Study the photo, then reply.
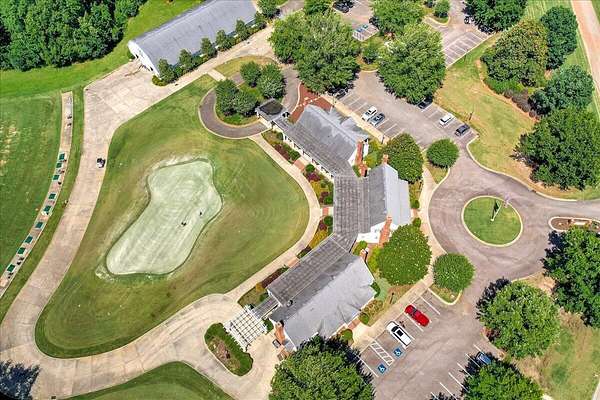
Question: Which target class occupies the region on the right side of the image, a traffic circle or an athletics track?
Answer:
traffic circle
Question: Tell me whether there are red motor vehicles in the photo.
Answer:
Yes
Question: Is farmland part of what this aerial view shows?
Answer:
No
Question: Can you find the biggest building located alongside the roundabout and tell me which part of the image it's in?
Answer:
center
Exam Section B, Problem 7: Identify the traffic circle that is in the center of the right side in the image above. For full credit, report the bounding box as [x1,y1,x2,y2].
[444,182,542,262]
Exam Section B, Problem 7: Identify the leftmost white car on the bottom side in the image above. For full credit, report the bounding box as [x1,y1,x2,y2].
[387,322,412,347]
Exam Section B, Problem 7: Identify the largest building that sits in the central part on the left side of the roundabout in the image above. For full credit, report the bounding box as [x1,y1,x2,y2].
[253,103,412,348]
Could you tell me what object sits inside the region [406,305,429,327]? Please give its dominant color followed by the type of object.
red car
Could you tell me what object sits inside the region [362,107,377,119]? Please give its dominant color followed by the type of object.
white vehicle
